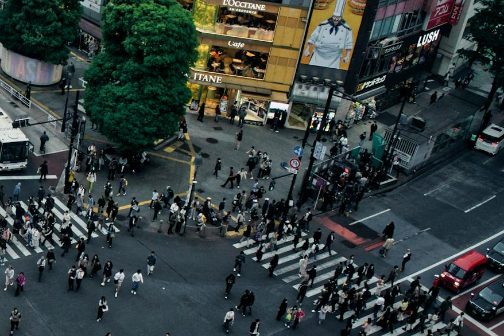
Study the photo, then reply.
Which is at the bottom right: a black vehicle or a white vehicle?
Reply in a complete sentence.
Looking at the bottom right, you will find a black vehicle.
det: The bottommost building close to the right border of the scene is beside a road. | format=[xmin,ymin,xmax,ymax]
[375,84,499,165]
